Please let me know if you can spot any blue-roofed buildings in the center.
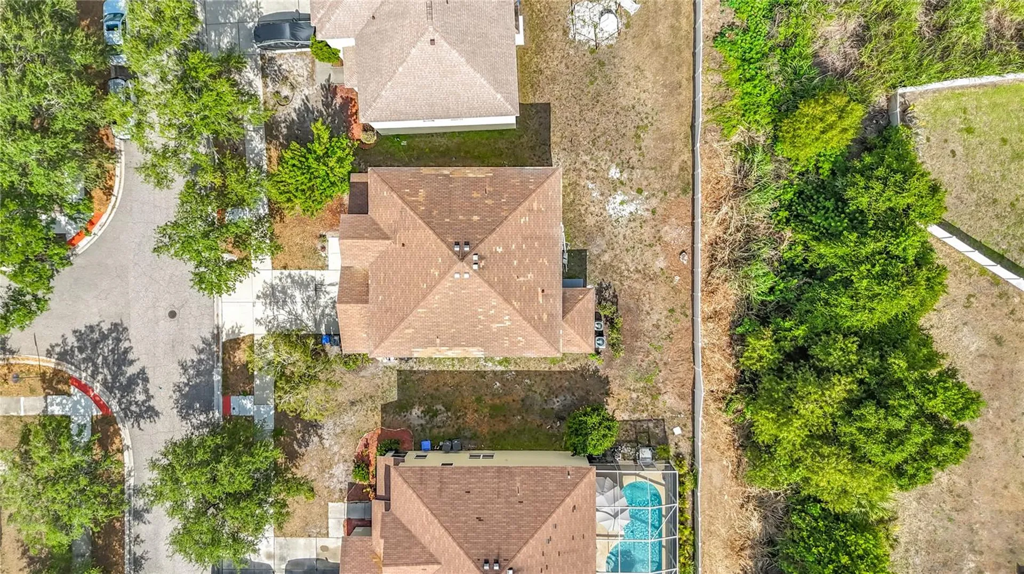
No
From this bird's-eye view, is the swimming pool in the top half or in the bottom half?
bottom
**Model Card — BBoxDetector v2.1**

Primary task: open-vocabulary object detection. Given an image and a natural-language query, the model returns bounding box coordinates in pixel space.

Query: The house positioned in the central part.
[335,165,596,358]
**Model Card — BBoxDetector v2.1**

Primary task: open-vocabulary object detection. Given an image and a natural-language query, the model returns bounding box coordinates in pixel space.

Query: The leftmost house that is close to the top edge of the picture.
[301,0,523,134]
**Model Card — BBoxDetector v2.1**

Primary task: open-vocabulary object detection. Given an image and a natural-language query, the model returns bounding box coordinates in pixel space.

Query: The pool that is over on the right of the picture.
[602,478,665,574]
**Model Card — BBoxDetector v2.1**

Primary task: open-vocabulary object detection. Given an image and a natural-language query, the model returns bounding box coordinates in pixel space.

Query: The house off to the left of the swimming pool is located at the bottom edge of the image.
[336,452,596,574]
